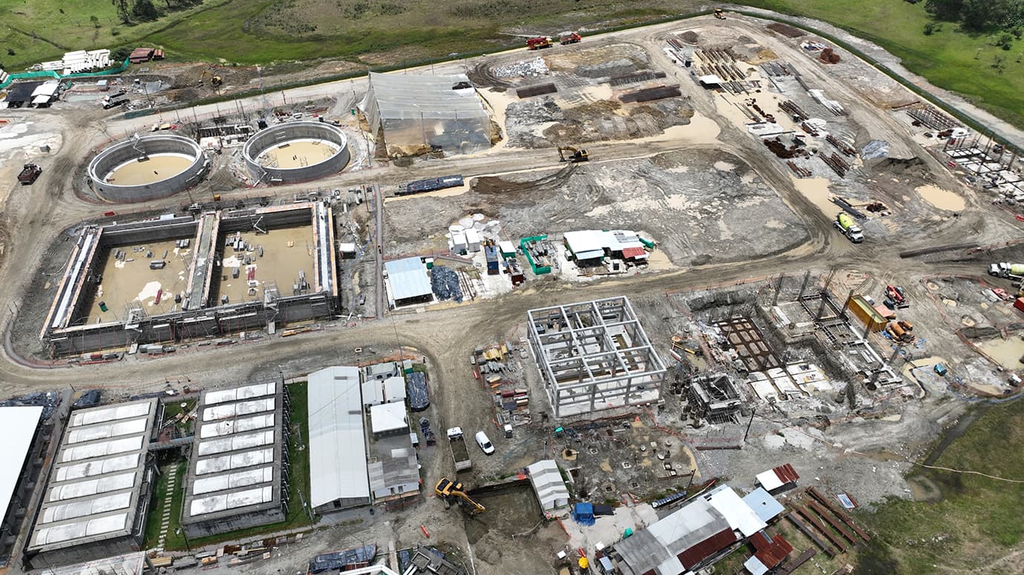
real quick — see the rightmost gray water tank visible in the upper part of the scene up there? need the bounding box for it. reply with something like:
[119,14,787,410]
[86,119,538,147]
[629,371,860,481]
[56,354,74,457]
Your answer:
[240,121,349,185]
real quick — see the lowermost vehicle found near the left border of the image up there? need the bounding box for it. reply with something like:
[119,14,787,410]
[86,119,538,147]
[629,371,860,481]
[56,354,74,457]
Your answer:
[10,158,45,181]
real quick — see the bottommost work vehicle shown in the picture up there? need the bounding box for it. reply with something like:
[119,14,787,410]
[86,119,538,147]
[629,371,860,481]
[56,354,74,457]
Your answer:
[431,474,485,515]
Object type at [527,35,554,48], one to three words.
vehicle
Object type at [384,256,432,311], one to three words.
shed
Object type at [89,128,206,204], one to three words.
water tank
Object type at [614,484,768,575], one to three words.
building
